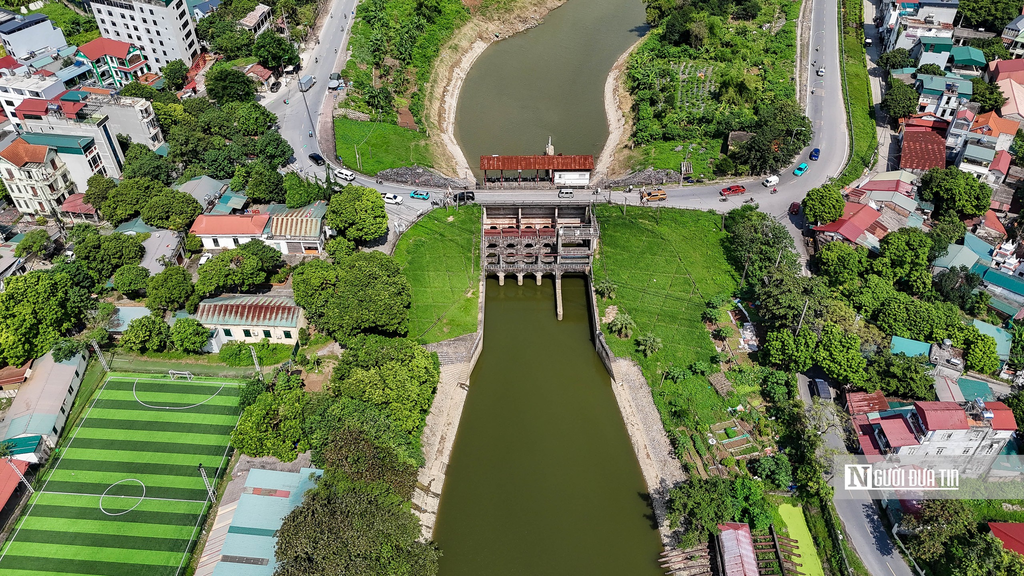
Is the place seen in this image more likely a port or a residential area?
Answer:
residential area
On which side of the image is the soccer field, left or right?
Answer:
left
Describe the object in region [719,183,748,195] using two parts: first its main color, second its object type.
red vehicle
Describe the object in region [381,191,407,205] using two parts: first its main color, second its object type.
white vehicle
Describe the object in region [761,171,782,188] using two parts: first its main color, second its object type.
white vehicle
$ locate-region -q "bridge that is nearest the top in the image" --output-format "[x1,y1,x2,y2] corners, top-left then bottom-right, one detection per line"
[469,182,603,208]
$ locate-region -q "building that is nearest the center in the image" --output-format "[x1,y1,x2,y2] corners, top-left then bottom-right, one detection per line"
[479,155,606,187]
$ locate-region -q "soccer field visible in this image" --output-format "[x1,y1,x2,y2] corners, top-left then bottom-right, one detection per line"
[0,358,284,576]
